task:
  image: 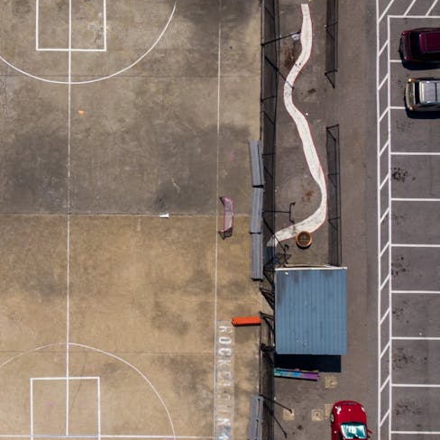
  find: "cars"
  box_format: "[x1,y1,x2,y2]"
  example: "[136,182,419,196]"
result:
[330,399,375,440]
[403,76,440,112]
[398,28,440,66]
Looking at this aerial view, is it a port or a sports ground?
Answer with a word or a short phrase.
sports ground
